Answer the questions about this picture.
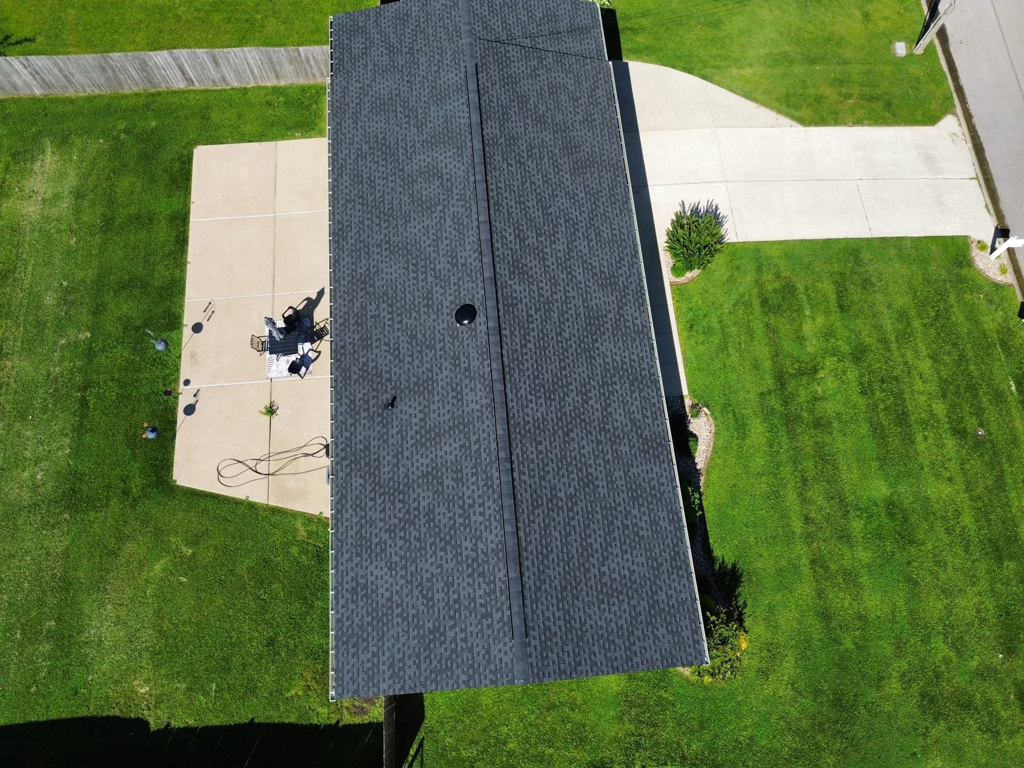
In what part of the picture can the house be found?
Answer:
center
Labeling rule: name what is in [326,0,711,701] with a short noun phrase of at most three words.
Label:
house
